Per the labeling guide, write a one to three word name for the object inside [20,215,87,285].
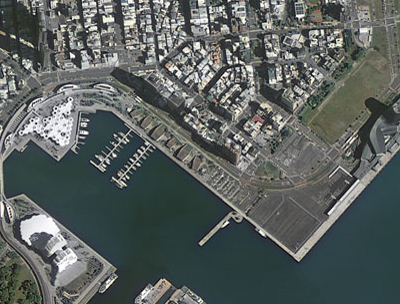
building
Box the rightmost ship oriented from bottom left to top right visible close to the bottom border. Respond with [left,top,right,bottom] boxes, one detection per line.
[136,283,151,303]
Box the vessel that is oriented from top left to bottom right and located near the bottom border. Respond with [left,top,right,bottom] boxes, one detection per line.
[182,285,207,304]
